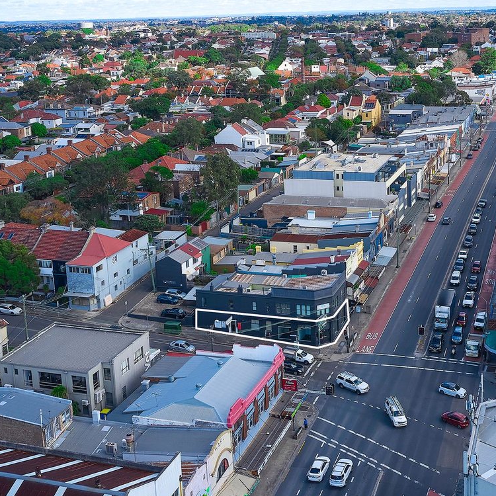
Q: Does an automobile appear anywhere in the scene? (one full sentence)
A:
Yes, there's an automobile down there.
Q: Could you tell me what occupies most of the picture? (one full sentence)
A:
The scene is dominated by buildings.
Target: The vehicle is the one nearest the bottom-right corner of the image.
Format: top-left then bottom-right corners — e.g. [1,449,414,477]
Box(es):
[438,410,471,428]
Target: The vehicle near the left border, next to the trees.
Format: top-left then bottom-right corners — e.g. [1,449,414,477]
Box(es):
[0,301,22,314]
